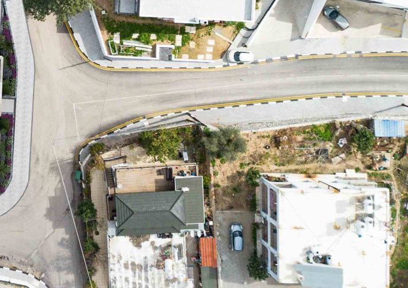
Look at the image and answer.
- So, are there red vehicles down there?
No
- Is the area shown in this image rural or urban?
urban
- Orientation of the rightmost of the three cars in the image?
at an angle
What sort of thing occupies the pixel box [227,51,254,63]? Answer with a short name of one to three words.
vehicle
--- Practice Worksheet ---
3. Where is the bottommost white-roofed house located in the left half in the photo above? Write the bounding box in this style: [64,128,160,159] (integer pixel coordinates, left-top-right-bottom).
[103,214,196,288]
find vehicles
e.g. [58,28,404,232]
[227,51,254,63]
[228,223,244,251]
[321,4,352,33]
